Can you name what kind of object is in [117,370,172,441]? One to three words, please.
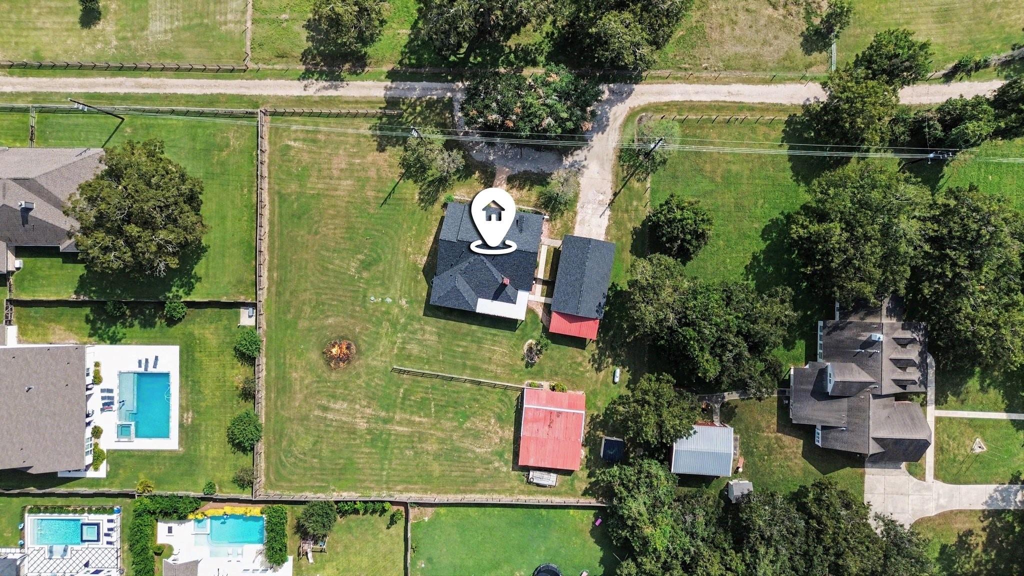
swimming pool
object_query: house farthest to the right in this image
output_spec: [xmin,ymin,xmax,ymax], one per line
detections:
[788,283,931,461]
